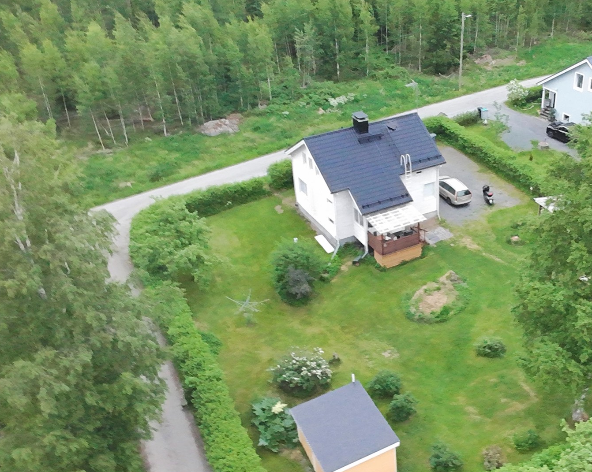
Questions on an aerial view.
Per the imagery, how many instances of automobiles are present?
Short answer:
two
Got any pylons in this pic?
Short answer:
No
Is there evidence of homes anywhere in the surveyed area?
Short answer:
Yes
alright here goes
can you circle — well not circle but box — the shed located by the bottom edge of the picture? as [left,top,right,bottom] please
[288,378,403,472]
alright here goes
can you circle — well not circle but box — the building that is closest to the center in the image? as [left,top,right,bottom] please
[283,107,446,256]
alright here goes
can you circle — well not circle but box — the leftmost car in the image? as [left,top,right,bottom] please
[438,179,471,205]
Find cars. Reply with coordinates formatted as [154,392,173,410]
[542,122,583,143]
[438,179,471,205]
